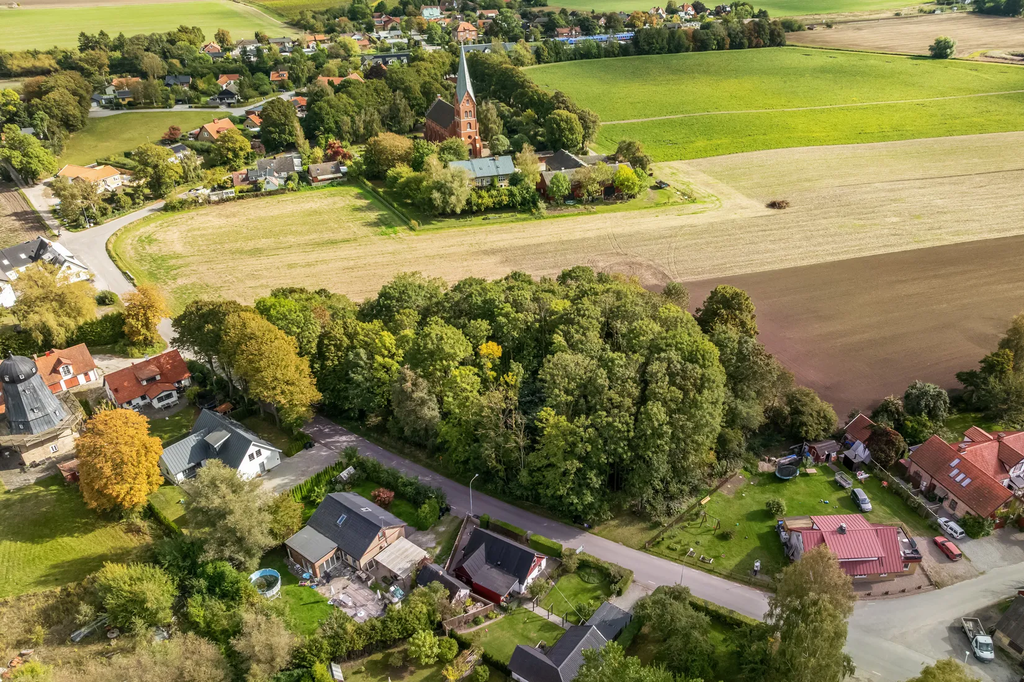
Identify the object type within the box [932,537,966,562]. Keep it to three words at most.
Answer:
car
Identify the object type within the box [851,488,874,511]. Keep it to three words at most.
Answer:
car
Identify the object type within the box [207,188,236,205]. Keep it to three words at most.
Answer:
building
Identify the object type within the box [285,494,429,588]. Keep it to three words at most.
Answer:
house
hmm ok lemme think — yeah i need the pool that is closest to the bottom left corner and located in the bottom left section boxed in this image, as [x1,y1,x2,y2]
[250,567,285,600]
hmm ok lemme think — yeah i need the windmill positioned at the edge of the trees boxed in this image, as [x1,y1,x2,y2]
[0,344,86,467]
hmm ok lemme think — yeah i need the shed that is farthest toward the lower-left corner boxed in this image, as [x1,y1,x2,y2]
[58,450,90,485]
